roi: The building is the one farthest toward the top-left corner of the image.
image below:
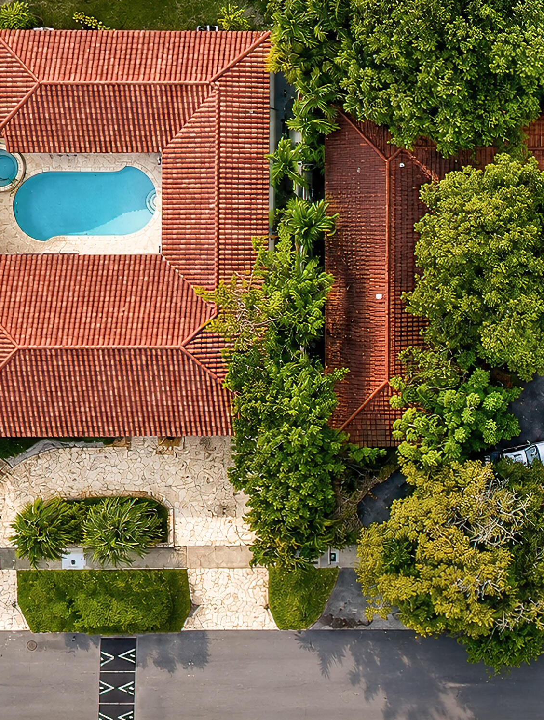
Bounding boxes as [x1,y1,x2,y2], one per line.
[0,28,276,436]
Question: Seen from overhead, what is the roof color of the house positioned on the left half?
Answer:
red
